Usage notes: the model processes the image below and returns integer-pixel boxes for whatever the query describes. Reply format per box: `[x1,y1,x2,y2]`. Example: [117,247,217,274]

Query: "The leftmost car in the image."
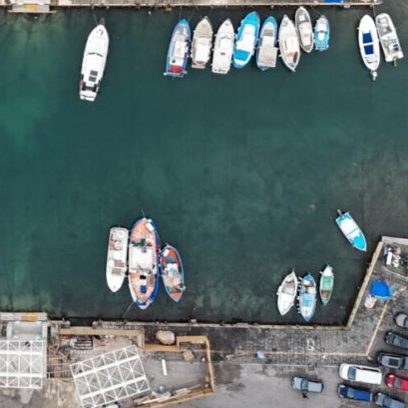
[289,374,323,391]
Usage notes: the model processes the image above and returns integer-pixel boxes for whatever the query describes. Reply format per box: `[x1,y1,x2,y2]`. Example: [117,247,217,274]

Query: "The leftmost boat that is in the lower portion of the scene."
[106,226,129,293]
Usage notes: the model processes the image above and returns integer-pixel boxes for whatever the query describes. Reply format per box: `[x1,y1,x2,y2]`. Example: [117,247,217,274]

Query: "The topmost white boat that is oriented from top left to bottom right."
[338,210,368,250]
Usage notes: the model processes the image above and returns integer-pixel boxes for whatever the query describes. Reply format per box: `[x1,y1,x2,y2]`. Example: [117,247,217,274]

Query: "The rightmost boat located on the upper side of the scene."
[376,2,403,66]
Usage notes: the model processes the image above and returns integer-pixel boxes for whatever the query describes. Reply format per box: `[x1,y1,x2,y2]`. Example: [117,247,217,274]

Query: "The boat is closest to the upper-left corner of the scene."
[77,7,109,105]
